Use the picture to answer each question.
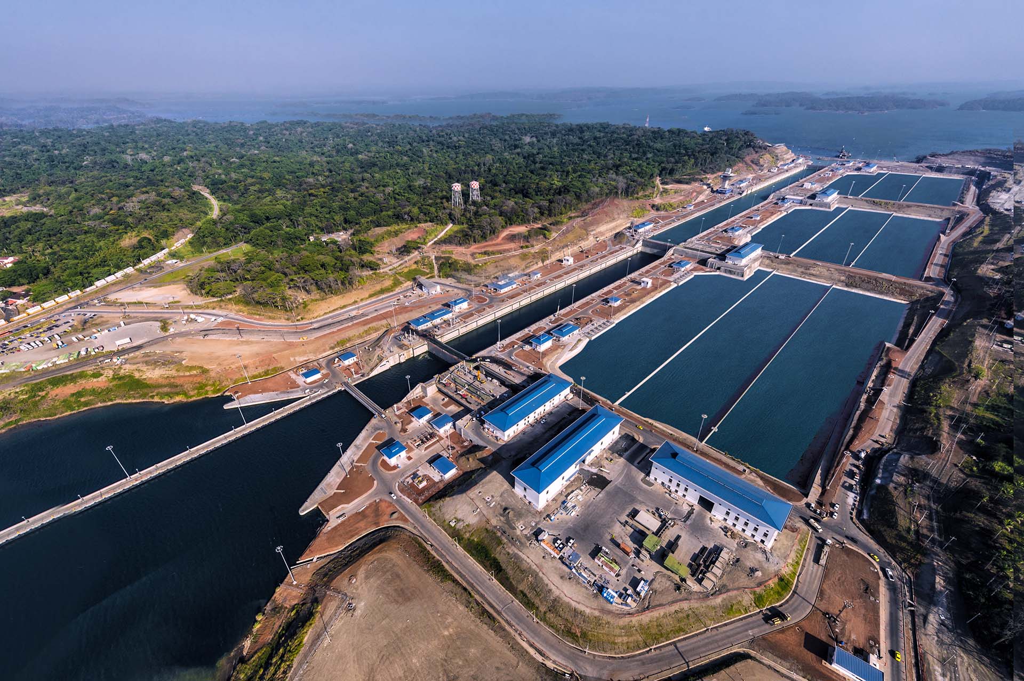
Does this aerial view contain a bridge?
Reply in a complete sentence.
Yes, looking at the shot, I can spot a bridge.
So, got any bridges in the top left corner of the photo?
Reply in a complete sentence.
No, no bridge can be made out in the top left corner of the photo.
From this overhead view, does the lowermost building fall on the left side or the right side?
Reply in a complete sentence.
The lowermost building is on the right side of the image.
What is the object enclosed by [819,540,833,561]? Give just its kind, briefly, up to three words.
vehicle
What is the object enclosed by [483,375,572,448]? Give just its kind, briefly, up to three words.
building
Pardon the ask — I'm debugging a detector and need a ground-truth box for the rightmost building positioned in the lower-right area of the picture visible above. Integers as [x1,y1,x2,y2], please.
[821,646,890,681]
